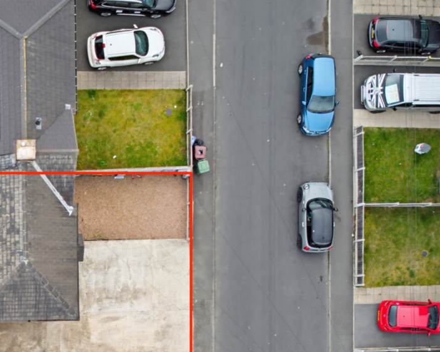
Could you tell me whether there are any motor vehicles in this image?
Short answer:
Yes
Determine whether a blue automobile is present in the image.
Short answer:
Yes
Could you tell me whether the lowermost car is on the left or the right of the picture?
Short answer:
right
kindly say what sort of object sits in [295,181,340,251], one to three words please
car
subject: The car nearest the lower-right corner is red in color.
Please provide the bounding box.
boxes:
[371,298,440,338]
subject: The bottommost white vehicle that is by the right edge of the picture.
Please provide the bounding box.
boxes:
[362,68,440,113]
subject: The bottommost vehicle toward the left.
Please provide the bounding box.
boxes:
[86,25,166,70]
